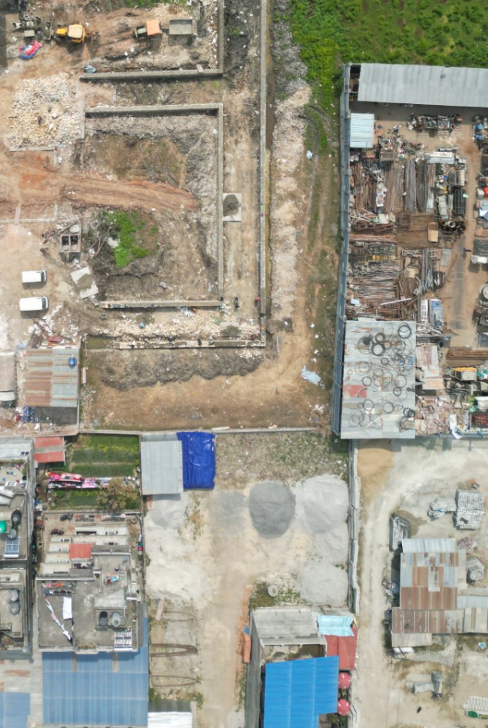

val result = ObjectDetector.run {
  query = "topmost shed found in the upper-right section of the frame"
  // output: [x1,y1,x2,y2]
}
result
[349,64,488,107]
